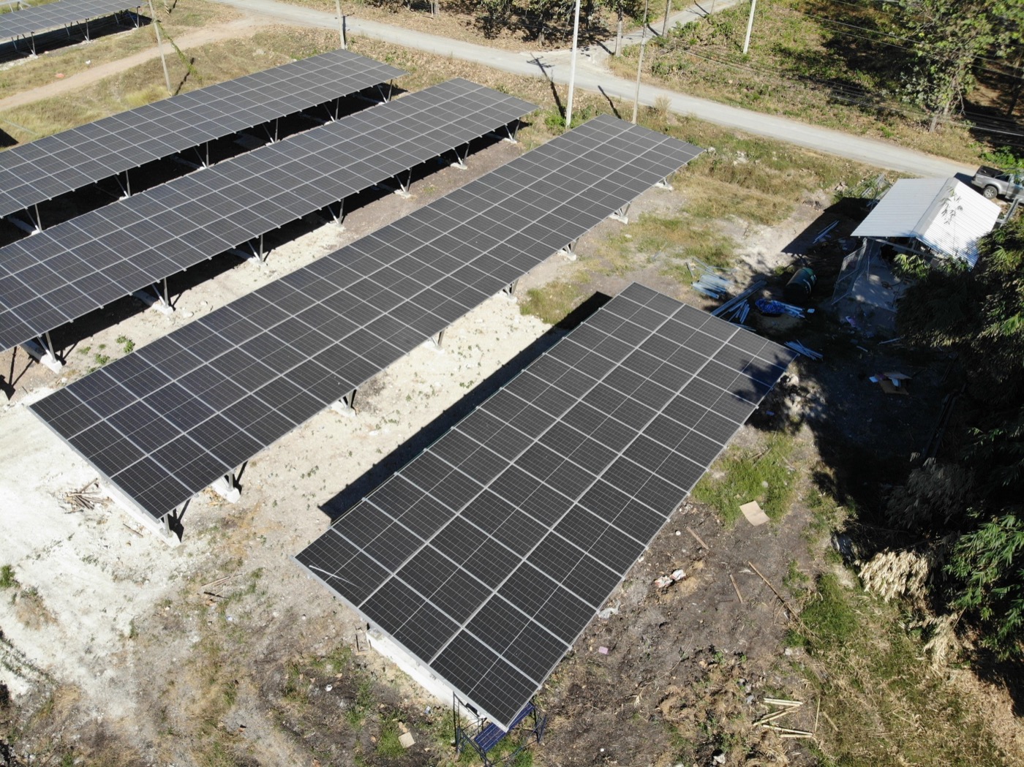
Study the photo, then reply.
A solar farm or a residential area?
solar farm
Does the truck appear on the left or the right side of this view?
right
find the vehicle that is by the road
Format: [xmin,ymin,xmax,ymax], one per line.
[969,161,1024,203]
